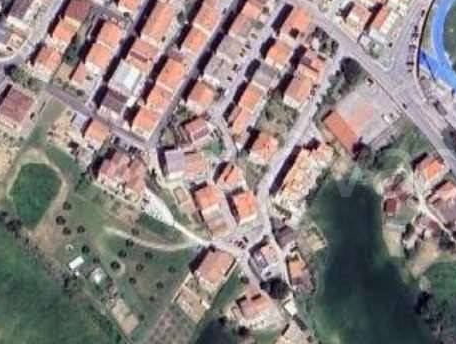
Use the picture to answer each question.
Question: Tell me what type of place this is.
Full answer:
This image shows a residential area.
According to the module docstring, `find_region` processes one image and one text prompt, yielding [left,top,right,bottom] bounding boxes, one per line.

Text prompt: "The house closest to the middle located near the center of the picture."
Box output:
[212,161,246,196]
